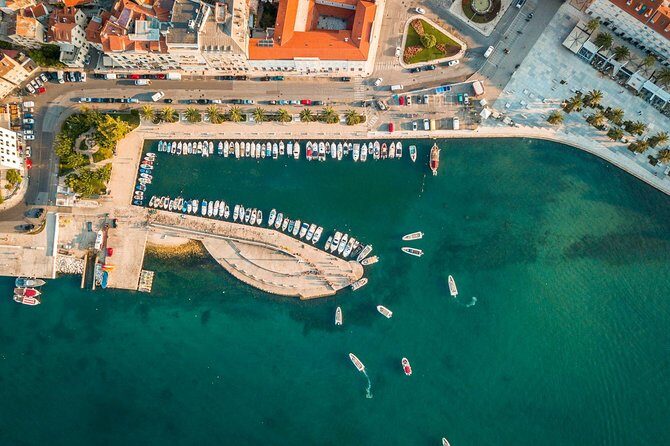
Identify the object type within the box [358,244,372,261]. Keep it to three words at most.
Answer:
boat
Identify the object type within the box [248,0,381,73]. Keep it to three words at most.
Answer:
building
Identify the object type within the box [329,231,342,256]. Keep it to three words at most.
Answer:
boat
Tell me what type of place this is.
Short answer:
port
